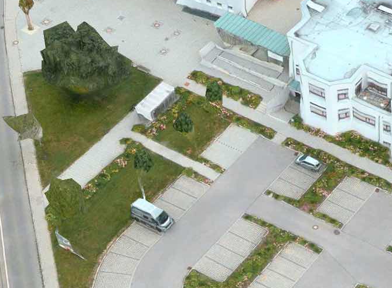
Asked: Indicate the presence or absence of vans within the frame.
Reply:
Yes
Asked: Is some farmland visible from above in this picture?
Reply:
No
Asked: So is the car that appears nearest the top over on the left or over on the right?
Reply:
right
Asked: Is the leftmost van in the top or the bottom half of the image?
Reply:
bottom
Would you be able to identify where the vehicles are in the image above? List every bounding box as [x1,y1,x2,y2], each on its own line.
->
[127,197,176,234]
[291,154,326,175]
